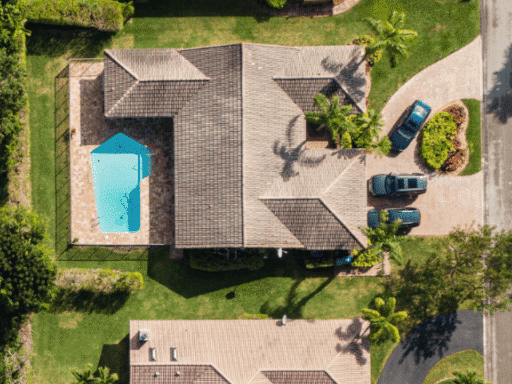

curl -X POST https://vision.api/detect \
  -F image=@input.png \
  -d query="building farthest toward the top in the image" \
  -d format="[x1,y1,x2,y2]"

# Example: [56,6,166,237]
[104,41,368,250]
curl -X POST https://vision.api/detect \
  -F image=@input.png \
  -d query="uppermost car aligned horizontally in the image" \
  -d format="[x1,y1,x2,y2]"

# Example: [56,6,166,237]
[367,171,429,199]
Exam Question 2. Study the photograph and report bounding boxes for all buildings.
[129,318,370,384]
[104,41,368,250]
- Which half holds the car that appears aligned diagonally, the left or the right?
right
